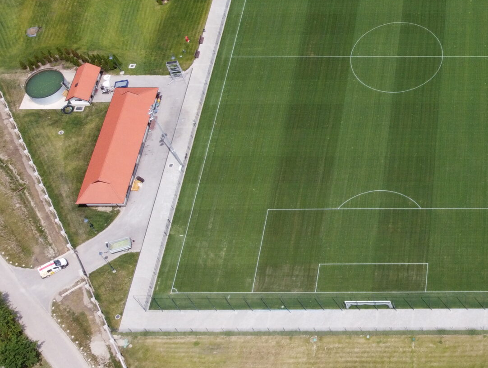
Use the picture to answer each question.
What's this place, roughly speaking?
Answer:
sports ground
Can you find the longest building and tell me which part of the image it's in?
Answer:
left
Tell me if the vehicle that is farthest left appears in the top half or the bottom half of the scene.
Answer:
bottom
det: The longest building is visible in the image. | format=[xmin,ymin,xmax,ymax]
[76,87,161,206]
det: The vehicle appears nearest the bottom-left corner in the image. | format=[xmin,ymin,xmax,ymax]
[34,257,69,279]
